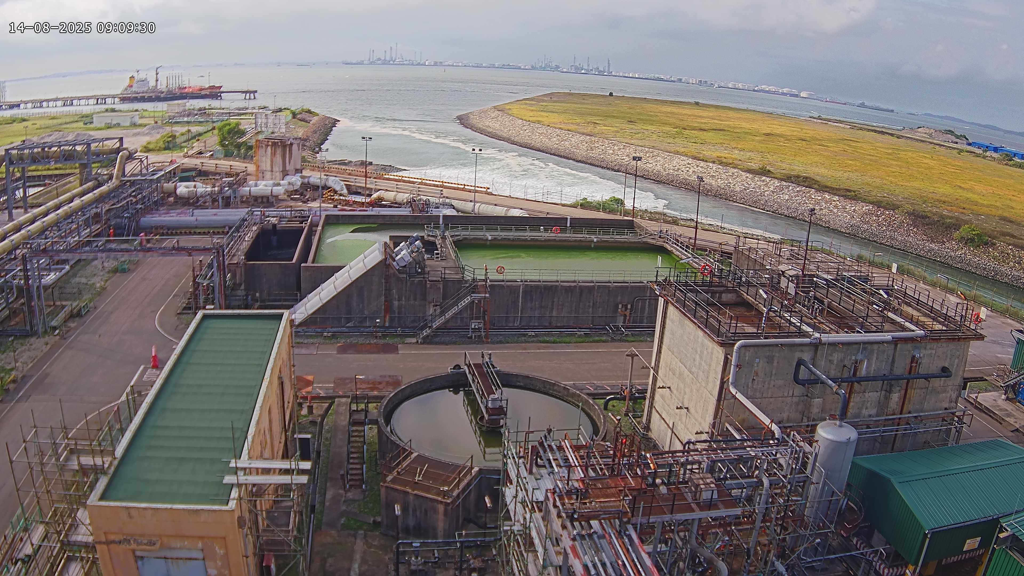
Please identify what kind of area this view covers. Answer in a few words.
industrial area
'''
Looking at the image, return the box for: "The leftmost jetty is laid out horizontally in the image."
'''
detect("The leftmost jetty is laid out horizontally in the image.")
[0,85,258,108]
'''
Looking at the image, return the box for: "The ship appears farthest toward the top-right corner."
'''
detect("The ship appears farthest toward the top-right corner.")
[853,97,894,114]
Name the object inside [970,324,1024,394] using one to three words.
building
